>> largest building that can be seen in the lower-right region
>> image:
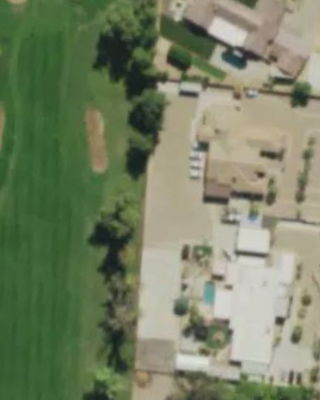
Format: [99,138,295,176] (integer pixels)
[213,253,296,373]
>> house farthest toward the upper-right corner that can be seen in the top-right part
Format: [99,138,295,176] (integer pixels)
[185,0,310,79]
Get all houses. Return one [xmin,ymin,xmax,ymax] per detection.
[185,0,310,79]
[213,253,296,373]
[197,125,287,201]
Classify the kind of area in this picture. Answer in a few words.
golf course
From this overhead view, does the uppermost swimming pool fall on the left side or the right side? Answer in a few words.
right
